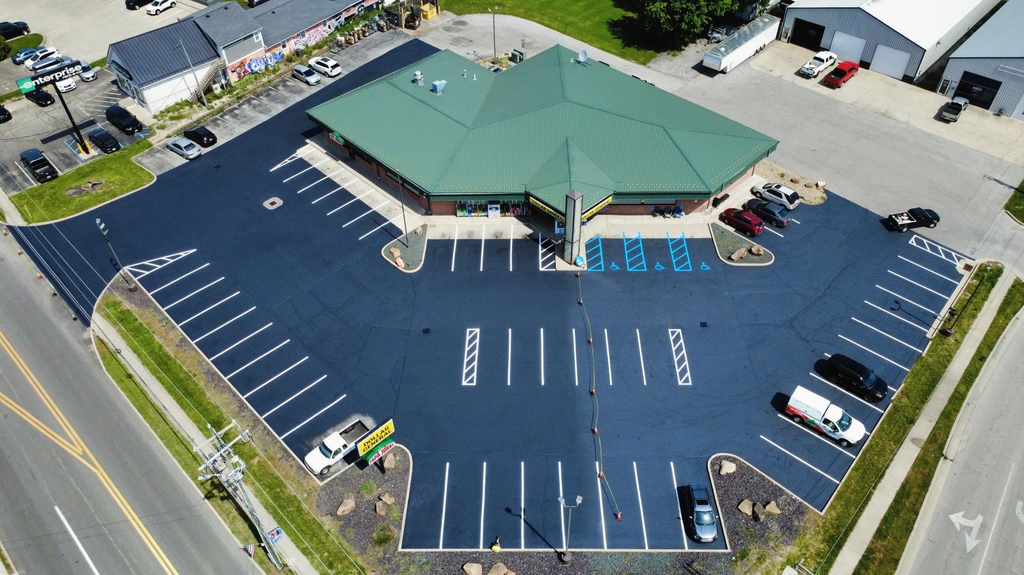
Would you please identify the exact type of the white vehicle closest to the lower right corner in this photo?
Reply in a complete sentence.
The white vehicle closest to the lower right corner in the image is a truck.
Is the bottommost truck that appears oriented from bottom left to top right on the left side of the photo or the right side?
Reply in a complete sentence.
The bottommost truck that appears oriented from bottom left to top right is on the left side of the image.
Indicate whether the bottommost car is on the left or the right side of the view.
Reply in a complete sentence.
The bottommost car sits on the right side.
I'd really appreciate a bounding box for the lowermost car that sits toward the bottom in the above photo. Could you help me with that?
[683,482,719,548]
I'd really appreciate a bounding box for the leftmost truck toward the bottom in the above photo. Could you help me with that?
[303,418,369,478]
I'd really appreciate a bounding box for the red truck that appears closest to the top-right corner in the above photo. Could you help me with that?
[824,65,858,87]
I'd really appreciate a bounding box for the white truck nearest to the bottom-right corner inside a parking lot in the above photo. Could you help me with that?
[785,381,869,450]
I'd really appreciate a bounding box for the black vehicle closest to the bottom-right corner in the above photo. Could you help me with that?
[818,353,889,404]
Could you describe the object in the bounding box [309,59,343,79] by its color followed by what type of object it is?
white car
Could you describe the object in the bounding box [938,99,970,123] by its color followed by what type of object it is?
gray truck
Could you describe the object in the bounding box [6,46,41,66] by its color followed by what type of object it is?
blue car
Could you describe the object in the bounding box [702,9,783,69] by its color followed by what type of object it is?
white trailer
